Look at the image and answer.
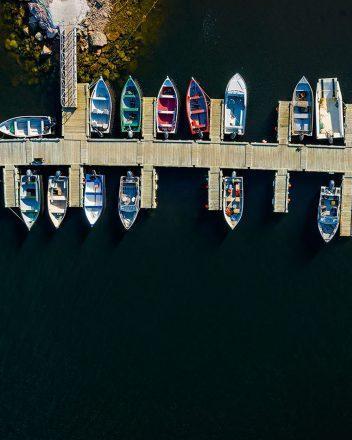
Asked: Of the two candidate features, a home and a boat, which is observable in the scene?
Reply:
boat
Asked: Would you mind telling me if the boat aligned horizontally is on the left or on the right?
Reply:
left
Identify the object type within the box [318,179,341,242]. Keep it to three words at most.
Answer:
boat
